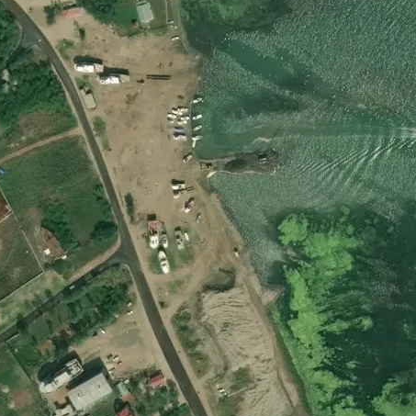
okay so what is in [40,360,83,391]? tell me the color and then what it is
white ship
